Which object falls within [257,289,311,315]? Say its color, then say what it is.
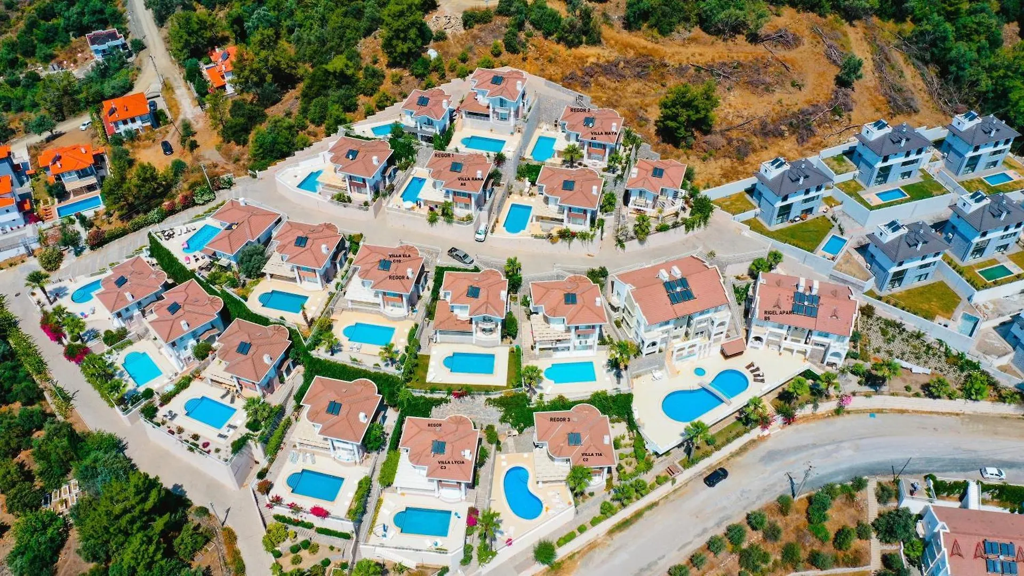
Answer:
blue swimming pool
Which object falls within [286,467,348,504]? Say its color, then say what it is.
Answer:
blue swimming pool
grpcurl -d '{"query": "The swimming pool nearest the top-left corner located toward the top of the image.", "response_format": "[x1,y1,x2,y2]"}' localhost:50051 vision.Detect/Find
[55,195,104,219]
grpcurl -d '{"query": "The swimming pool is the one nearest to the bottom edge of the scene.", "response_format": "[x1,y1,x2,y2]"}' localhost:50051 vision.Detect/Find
[393,506,454,539]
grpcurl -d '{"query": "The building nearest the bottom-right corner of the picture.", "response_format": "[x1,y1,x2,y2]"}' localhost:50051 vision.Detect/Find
[904,504,1024,576]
